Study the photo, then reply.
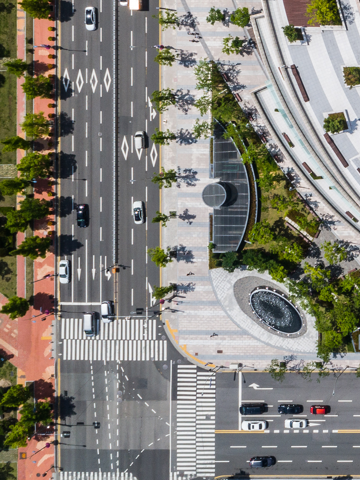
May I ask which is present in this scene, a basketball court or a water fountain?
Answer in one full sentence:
There is a water fountain in the scene.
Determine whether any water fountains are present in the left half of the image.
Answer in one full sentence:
No, there is no water fountain in the left half of the image.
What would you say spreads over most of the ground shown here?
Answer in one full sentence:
The largest share of the image is taken up by paved ground.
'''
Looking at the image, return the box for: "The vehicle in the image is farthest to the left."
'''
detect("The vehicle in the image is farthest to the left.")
[59,260,72,284]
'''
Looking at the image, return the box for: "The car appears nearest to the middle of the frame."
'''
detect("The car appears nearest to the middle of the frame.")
[132,200,145,225]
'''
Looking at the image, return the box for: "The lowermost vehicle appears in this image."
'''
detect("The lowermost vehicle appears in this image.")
[251,455,275,469]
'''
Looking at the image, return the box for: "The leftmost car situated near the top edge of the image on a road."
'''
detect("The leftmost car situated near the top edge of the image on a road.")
[84,6,98,31]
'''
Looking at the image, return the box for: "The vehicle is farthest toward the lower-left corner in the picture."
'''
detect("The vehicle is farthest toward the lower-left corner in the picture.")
[84,311,98,336]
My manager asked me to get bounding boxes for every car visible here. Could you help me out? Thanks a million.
[243,419,267,431]
[279,403,304,415]
[102,299,115,323]
[59,260,72,284]
[285,418,307,430]
[84,6,98,31]
[84,311,98,336]
[240,402,268,417]
[135,130,146,150]
[251,455,275,469]
[132,200,145,225]
[77,203,90,227]
[120,0,129,7]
